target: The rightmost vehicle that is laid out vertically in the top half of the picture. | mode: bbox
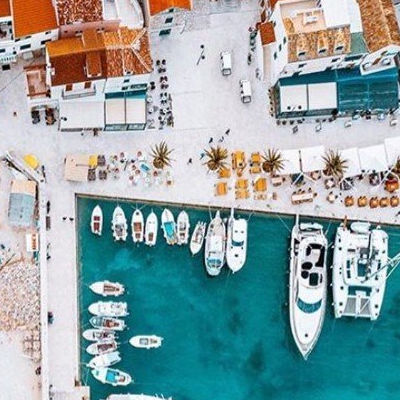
[238,79,252,107]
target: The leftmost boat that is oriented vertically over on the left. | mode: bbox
[90,205,103,238]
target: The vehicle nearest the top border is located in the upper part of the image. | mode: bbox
[218,50,232,79]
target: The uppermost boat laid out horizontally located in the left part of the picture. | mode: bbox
[89,281,126,297]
